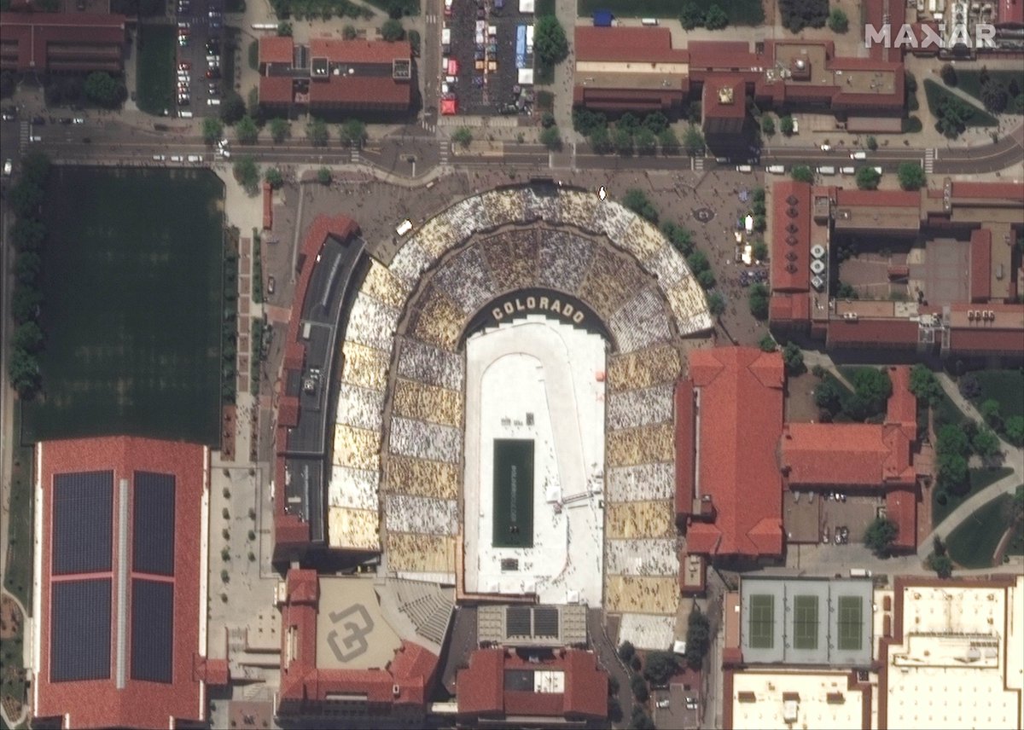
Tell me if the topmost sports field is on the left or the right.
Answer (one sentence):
The topmost sports field appears in the left half of the scene.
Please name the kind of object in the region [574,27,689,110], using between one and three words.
building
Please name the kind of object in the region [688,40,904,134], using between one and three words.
building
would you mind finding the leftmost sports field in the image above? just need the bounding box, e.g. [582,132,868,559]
[21,167,224,447]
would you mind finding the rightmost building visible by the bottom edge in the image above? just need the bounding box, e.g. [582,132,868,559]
[722,575,1024,730]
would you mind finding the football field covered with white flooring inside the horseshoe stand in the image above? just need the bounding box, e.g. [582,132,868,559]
[457,290,617,609]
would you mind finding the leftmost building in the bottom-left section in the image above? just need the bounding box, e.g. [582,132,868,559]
[23,437,228,730]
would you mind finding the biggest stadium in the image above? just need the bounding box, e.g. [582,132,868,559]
[319,181,715,653]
